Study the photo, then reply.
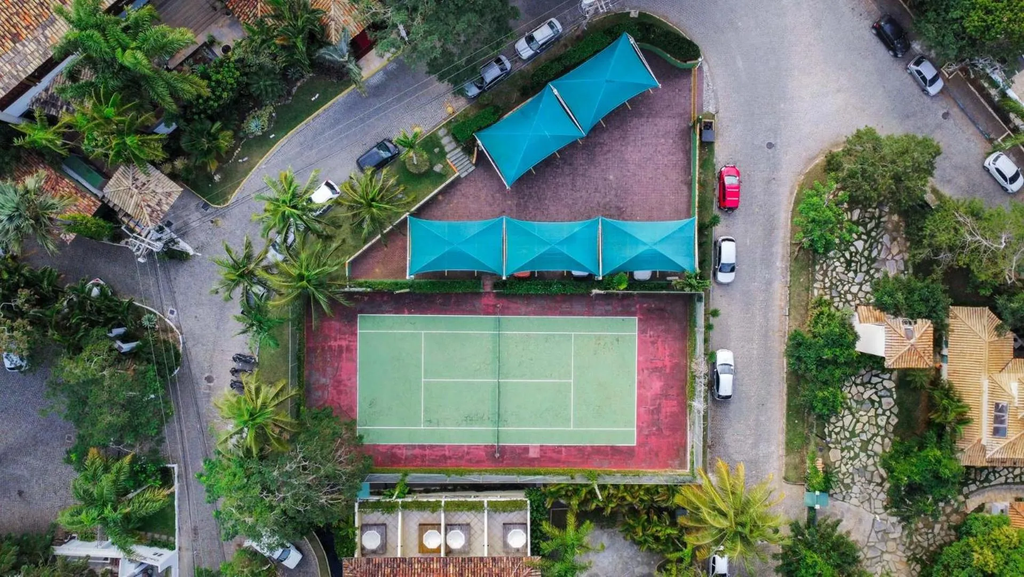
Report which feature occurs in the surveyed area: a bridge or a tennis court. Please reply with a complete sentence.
I can see a tennis court in this picture.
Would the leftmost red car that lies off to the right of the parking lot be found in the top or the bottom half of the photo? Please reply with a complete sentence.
The top half of the photo is where the leftmost red car that lies off to the right of the parking lot is.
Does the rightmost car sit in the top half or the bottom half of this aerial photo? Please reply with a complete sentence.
The top half of the photo is where the rightmost car is.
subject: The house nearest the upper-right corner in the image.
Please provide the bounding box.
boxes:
[983,58,1024,113]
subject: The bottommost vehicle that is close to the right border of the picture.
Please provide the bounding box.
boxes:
[979,149,1024,194]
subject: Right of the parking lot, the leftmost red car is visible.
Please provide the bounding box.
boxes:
[716,165,743,212]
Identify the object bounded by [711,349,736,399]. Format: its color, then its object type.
white car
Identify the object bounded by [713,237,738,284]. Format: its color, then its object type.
white car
